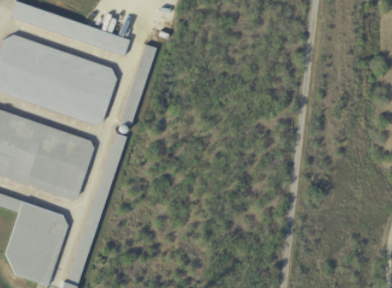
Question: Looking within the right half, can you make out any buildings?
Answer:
No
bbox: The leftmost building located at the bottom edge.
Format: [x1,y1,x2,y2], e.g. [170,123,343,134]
[6,202,70,286]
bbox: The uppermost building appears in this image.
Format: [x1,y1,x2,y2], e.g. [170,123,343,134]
[11,0,130,54]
